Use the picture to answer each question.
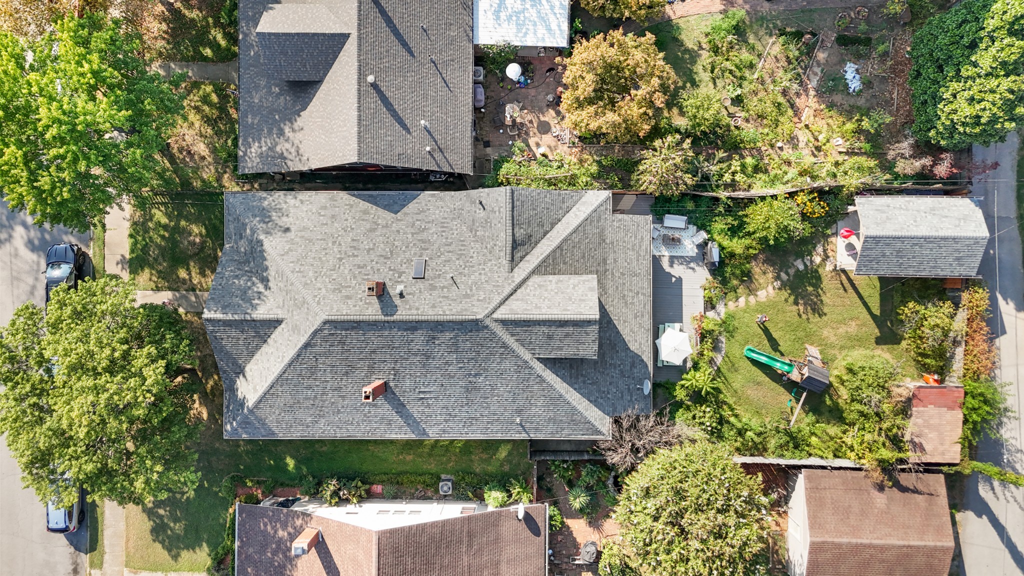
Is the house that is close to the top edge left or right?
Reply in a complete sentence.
The house that is close to the top edge sits on the left side.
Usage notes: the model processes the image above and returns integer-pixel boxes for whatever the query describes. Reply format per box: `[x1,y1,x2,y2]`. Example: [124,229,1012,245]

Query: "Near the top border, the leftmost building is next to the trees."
[236,0,476,178]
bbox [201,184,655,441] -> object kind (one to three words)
house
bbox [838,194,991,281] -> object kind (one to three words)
shed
